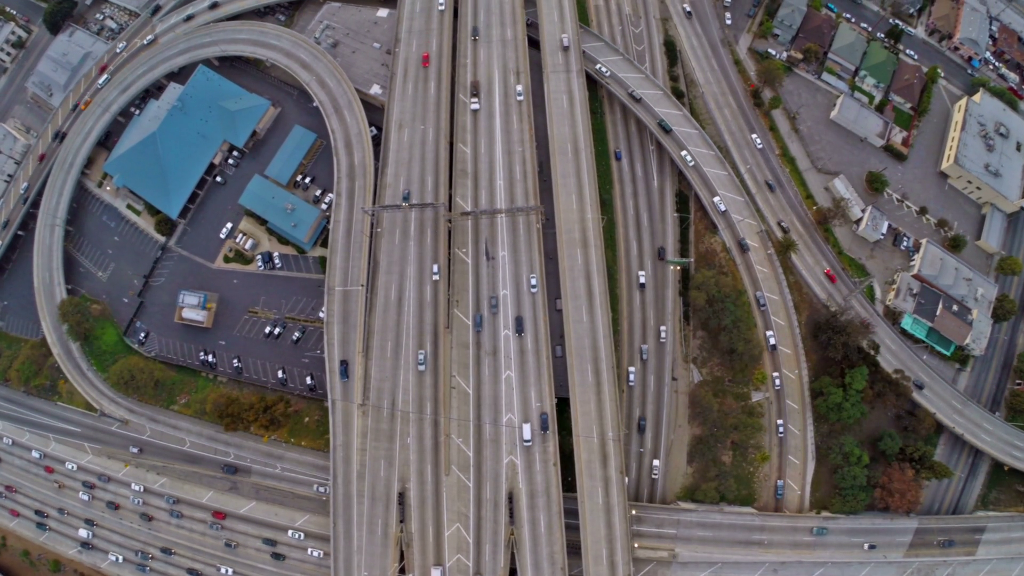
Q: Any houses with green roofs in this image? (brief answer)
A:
Yes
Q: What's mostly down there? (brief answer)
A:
paved ground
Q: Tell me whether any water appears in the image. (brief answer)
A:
No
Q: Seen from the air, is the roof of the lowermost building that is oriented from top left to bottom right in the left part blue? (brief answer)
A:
Yes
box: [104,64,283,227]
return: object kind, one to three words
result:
building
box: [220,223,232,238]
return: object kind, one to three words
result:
vehicle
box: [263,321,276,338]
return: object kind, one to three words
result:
vehicle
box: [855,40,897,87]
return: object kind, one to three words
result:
house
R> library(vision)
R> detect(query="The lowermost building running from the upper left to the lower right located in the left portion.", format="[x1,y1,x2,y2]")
[239,174,327,251]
